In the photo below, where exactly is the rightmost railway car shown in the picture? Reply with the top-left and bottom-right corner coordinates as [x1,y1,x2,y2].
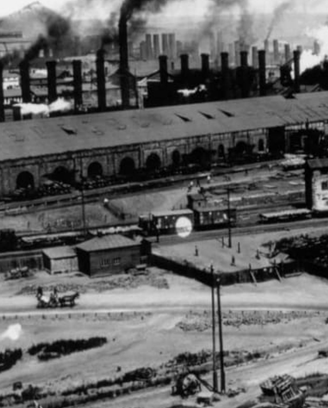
[259,206,314,220]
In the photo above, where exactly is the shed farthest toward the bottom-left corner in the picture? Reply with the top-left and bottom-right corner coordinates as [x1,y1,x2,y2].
[47,247,79,274]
